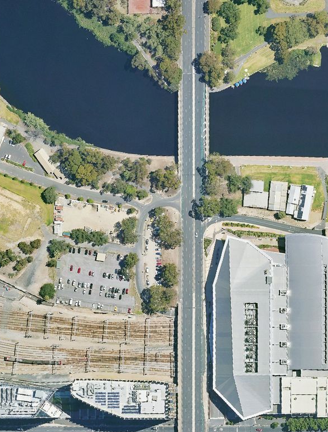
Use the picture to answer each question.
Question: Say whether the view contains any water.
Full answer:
Yes, water can be seen from above here.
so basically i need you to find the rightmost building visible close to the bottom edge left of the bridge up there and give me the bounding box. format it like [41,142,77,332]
[69,377,177,421]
